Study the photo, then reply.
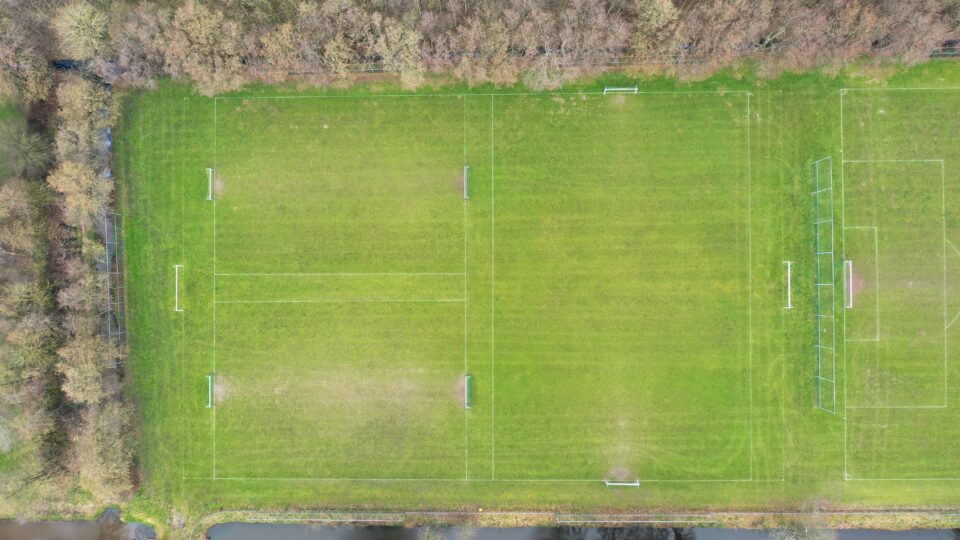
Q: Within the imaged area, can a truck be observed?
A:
No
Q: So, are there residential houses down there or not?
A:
No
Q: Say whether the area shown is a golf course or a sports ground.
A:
sports ground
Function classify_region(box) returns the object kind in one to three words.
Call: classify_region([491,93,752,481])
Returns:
soccer field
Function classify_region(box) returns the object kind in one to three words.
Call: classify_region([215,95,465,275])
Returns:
soccer field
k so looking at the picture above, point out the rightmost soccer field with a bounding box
[840,87,960,481]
